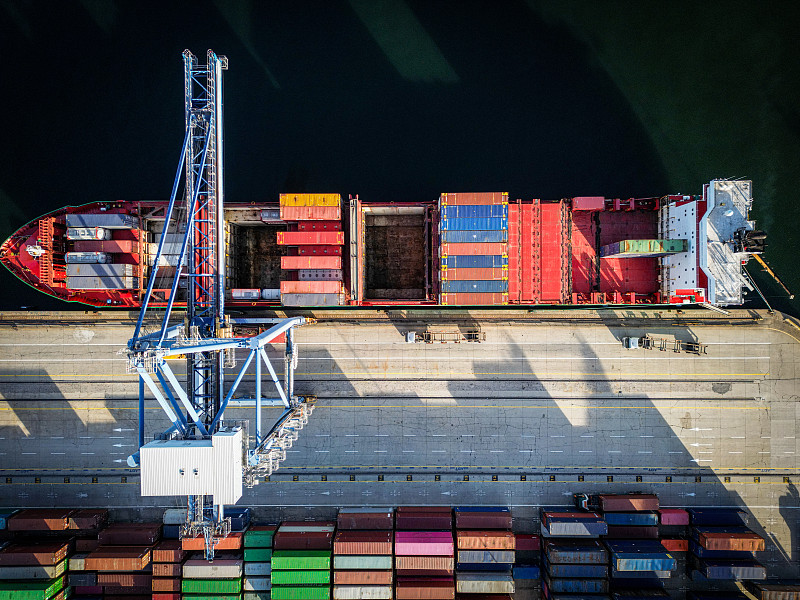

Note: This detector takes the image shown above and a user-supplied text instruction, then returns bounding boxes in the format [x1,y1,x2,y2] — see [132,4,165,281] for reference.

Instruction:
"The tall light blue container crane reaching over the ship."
[107,46,326,560]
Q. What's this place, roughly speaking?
port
